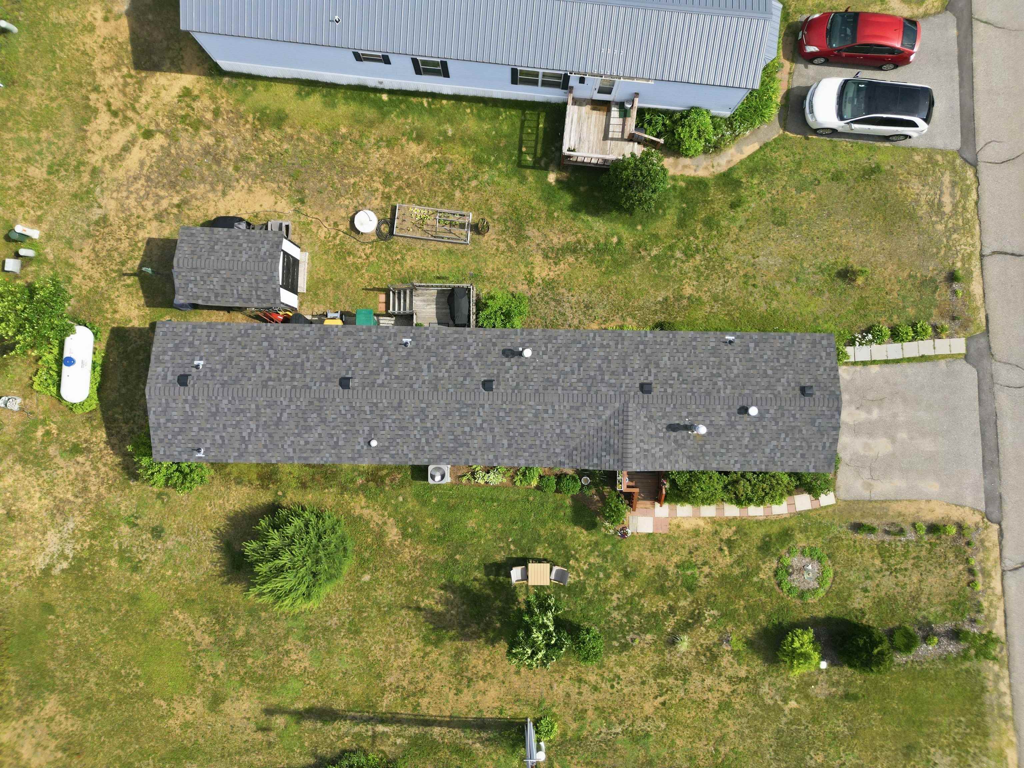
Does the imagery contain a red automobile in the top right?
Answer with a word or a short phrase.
Yes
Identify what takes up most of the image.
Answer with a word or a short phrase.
grass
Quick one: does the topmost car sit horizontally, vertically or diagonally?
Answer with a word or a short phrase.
horizontally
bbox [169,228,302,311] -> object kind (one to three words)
shed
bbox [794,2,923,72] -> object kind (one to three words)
car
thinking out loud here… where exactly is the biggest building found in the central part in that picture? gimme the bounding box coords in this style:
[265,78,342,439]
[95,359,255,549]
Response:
[145,321,846,474]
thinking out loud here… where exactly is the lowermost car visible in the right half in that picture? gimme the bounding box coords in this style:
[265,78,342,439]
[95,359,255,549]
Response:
[800,67,935,141]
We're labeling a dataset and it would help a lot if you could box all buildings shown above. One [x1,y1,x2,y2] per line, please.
[178,0,777,119]
[169,228,302,311]
[145,321,846,474]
